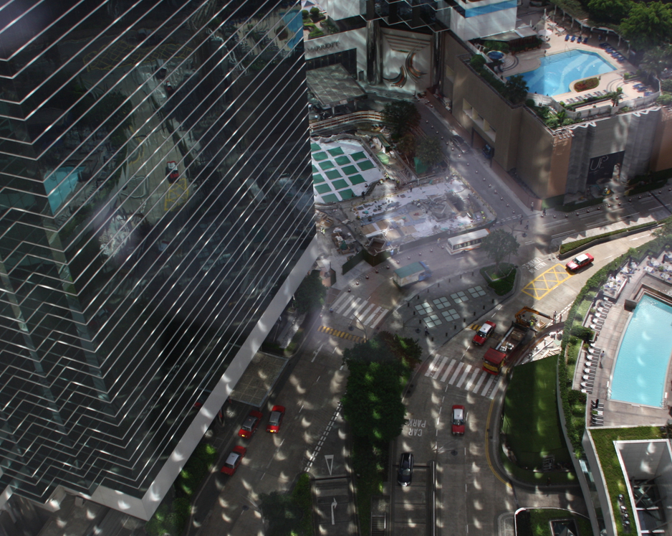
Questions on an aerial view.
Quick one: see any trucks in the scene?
Yes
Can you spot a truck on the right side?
Yes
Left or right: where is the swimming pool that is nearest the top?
right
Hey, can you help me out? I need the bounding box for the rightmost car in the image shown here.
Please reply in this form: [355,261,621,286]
[564,253,597,272]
